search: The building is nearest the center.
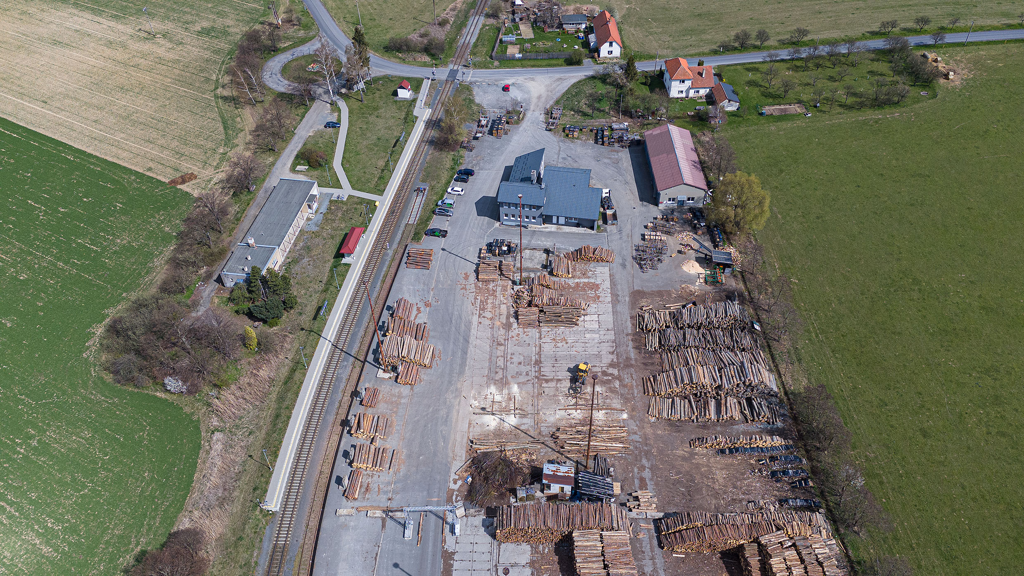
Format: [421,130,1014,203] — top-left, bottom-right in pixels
[497,148,603,231]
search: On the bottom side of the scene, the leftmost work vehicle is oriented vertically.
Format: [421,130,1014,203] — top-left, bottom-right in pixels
[576,358,591,392]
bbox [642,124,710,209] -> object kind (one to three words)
building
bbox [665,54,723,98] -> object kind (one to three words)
house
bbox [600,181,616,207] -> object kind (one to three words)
vehicle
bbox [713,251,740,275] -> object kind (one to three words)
shed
